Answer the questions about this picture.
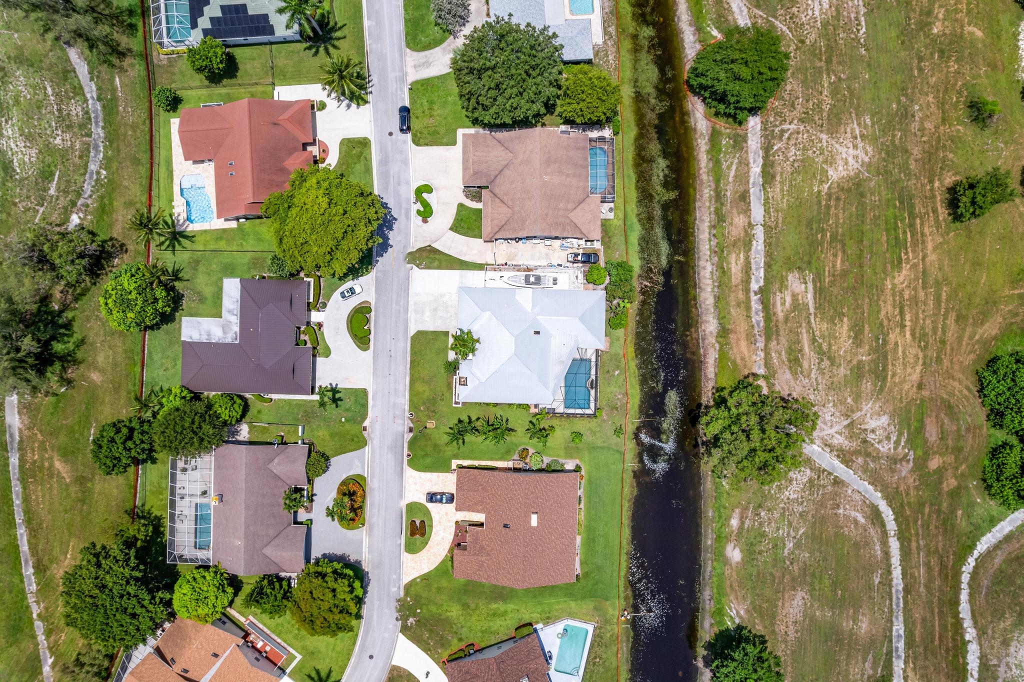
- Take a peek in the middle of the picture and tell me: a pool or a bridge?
pool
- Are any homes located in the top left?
Yes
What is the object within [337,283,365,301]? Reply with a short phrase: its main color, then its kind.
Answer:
white car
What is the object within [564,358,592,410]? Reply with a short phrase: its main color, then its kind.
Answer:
blue swimming pool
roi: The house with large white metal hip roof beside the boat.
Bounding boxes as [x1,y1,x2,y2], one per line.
[457,286,606,404]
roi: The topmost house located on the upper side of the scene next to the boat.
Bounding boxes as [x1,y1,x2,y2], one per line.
[462,128,601,241]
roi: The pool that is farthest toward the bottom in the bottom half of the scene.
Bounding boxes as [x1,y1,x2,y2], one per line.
[552,622,590,677]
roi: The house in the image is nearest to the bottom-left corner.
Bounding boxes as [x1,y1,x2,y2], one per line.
[123,611,293,682]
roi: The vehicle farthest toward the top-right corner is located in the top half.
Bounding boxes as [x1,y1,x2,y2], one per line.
[567,251,599,265]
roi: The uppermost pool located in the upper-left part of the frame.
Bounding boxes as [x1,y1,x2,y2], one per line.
[165,0,191,43]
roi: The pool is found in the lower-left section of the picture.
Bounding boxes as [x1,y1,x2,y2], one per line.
[194,502,212,550]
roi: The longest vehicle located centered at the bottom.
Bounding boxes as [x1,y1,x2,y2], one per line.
[426,491,454,505]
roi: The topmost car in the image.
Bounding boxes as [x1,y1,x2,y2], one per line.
[397,105,411,134]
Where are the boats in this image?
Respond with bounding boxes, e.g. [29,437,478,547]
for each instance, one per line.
[486,272,562,289]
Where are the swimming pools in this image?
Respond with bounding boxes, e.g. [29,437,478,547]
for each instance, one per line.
[564,358,592,410]
[179,174,214,224]
[194,502,212,550]
[590,145,609,195]
[569,0,595,15]
[165,0,191,43]
[552,622,590,677]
